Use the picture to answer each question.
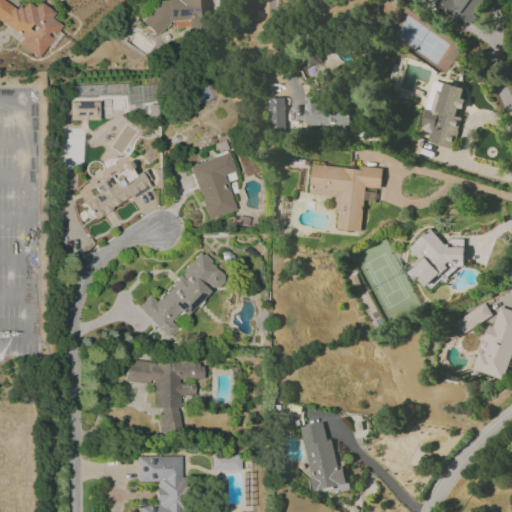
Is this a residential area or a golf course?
residential area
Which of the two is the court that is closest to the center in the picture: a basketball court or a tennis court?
tennis court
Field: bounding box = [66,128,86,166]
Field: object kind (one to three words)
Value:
building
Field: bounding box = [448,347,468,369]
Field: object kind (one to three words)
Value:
swimming pool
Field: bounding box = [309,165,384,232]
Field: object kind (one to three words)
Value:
house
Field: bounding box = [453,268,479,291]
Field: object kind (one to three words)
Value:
swimming pool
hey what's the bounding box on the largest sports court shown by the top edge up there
[397,8,458,72]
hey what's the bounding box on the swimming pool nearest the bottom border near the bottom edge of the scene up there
[227,473,242,505]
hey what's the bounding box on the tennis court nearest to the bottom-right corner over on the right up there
[364,242,432,330]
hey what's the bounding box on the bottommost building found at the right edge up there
[460,284,512,380]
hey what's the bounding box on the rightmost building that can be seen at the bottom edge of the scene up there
[302,422,350,493]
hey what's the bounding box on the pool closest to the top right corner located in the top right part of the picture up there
[402,64,432,92]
